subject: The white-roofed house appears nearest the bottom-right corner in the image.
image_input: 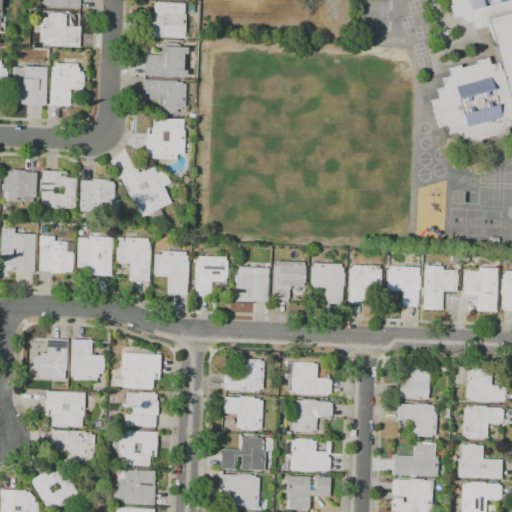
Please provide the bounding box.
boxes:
[462,483,503,512]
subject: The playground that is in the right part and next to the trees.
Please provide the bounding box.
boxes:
[416,180,447,238]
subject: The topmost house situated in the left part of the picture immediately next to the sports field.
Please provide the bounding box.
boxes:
[154,2,187,38]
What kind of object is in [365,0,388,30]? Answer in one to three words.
sports court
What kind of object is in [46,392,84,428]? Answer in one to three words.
house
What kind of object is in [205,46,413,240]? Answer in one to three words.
sports field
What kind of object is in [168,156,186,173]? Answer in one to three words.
swimming pool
